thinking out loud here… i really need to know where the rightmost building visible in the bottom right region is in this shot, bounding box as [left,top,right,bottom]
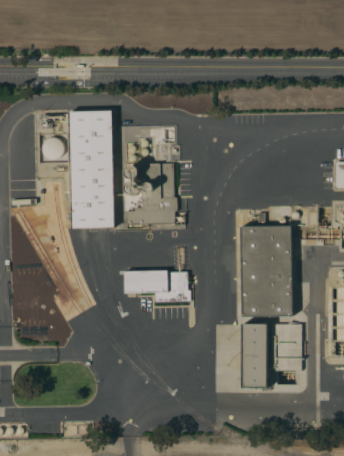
[274,324,306,370]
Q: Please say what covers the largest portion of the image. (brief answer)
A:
paved ground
